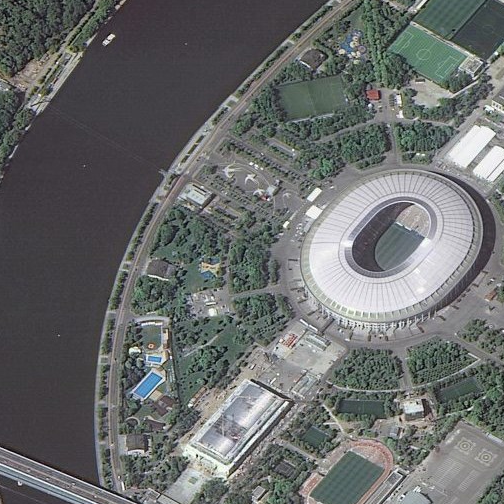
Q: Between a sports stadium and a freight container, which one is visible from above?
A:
sports stadium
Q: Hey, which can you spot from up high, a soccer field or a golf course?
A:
soccer field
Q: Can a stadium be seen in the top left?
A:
No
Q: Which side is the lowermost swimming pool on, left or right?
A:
left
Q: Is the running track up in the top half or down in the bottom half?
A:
bottom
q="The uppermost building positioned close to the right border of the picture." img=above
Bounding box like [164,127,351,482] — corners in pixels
[459,56,484,76]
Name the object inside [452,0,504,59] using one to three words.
soccer field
